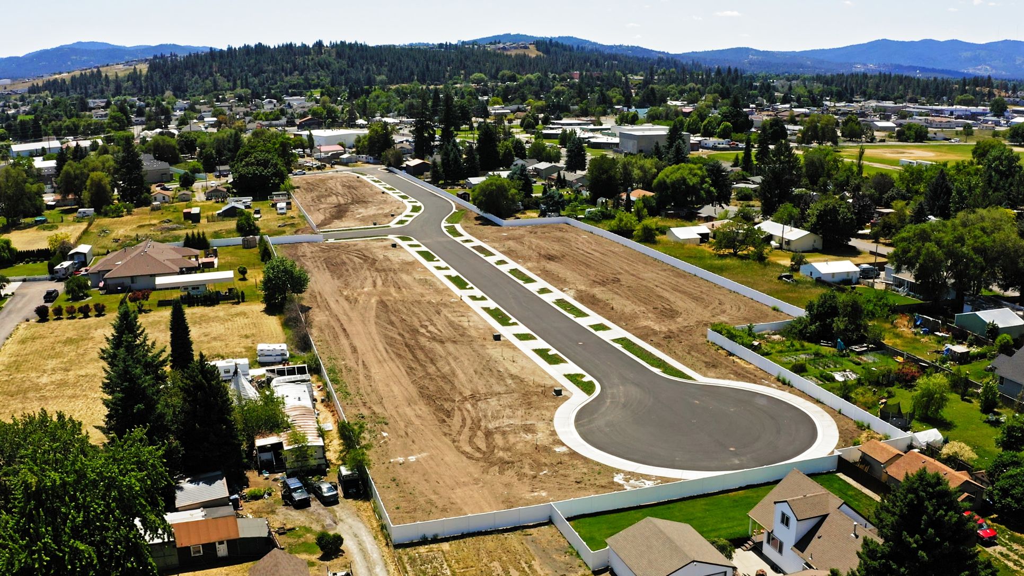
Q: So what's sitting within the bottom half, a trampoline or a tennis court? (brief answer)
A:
trampoline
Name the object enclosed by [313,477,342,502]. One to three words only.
car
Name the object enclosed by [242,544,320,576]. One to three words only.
shed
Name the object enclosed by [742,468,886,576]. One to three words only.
house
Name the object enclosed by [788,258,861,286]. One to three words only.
building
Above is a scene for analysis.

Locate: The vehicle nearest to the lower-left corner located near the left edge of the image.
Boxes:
[41,290,60,302]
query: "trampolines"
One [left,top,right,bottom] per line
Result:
[878,399,918,429]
